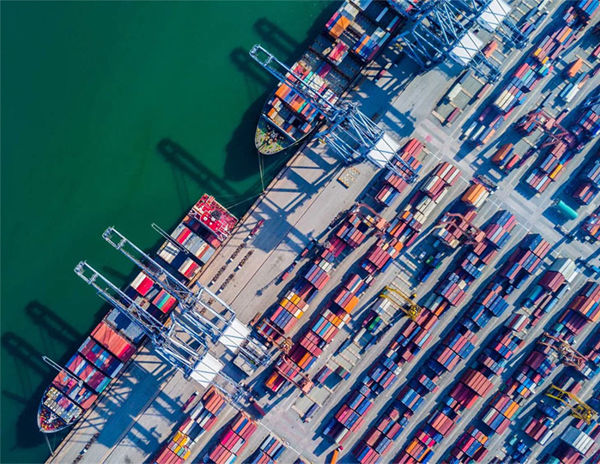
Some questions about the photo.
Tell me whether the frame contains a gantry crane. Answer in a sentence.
Yes, a gantry crane can be made out from above.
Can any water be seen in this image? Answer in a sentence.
Yes, there is water in the image.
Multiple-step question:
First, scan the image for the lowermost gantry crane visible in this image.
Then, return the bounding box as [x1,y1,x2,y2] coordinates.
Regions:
[542,382,599,429]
